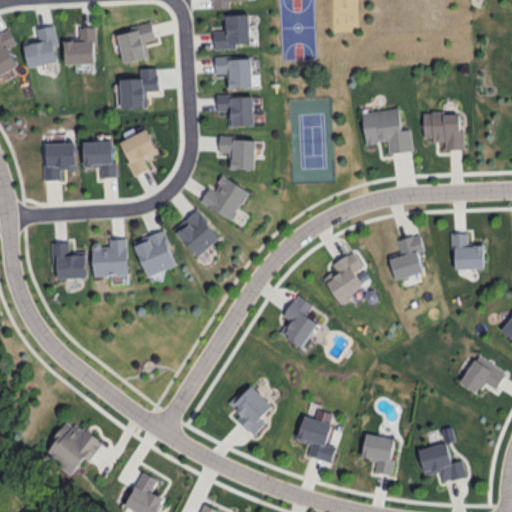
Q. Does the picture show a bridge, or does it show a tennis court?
tennis court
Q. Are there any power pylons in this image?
No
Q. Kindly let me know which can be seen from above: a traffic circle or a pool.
pool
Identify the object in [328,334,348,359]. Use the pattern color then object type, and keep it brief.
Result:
blue swimming pool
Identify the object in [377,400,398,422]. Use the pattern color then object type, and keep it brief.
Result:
blue swimming pool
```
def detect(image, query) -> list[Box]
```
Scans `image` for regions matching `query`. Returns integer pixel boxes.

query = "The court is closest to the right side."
[332,0,360,33]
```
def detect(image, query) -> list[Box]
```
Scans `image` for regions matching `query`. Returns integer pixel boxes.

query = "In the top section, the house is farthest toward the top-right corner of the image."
[422,110,464,152]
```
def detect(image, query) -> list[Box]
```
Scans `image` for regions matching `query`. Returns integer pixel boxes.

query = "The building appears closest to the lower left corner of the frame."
[50,424,104,472]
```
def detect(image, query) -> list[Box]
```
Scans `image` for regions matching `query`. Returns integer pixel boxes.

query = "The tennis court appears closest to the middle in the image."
[290,98,334,184]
